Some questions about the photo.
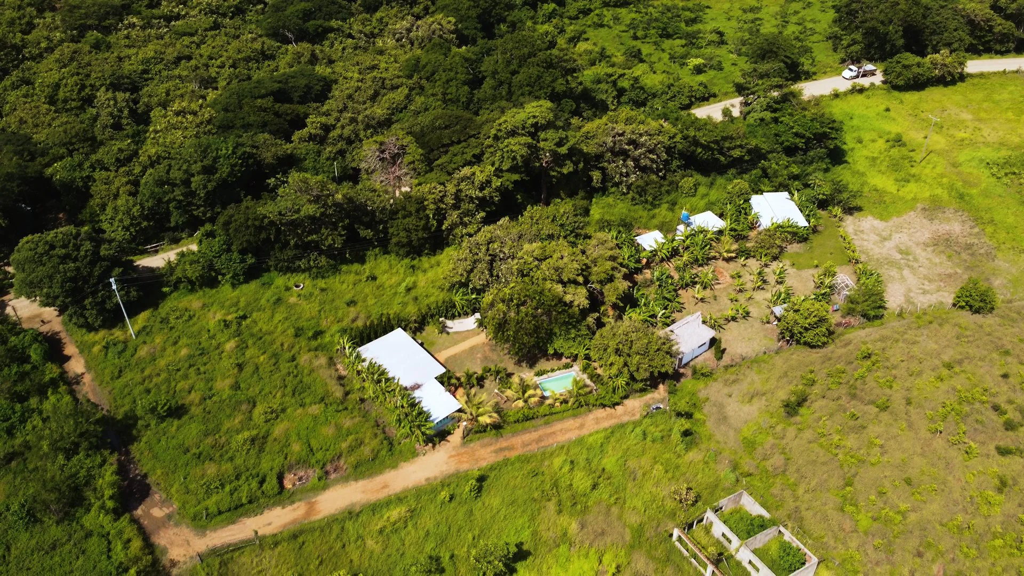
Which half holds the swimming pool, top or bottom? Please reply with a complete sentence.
The swimming pool is in the bottom half of the image.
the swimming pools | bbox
[525,364,596,400]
